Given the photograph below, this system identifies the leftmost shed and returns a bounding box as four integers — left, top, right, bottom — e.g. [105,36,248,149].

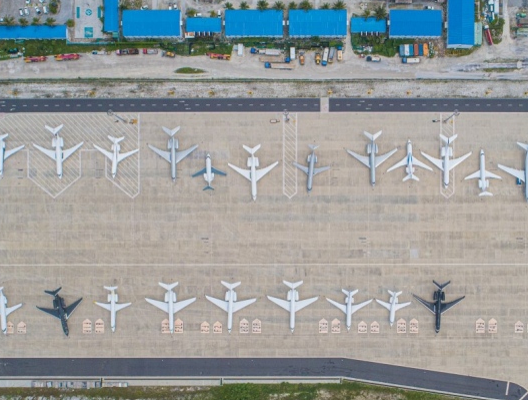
[0,26,67,40]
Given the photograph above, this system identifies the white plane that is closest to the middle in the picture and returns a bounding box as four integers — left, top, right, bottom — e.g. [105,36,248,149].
[227,148,278,200]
